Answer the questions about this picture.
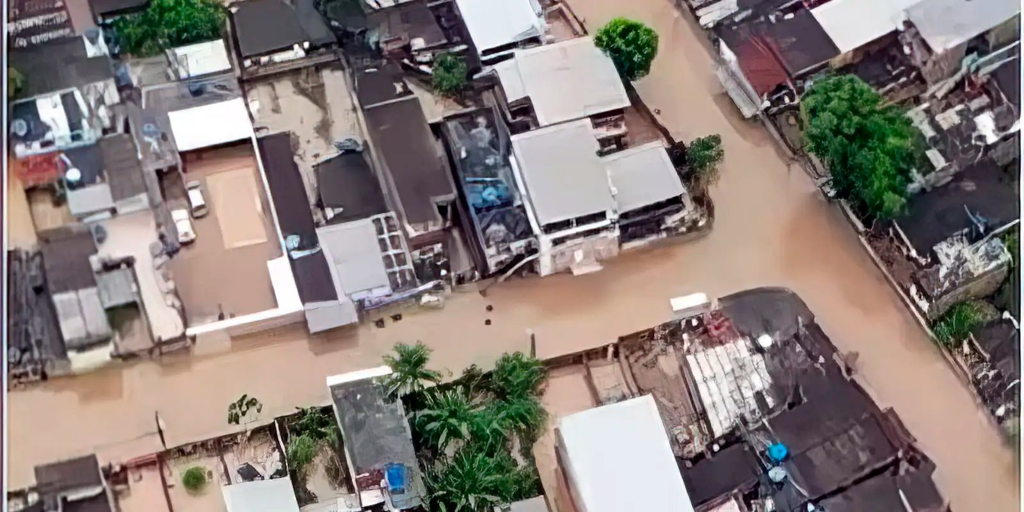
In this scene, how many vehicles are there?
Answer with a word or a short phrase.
3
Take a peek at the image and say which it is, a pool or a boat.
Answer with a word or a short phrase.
pool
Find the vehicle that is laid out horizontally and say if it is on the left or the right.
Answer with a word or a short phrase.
right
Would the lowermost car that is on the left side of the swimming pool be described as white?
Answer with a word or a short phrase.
Yes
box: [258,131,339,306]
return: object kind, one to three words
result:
house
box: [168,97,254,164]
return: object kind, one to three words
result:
house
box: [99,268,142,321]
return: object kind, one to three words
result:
shed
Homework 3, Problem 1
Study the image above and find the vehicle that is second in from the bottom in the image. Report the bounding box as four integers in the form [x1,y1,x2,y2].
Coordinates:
[170,211,198,250]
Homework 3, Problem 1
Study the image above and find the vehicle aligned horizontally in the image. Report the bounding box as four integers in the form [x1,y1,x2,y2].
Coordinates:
[670,293,710,314]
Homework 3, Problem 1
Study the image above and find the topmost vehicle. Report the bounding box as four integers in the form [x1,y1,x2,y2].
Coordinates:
[186,183,211,220]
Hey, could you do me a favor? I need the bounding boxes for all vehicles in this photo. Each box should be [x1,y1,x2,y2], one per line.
[170,211,198,250]
[670,293,710,314]
[186,183,211,220]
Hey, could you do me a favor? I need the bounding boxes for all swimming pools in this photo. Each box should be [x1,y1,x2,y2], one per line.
[205,165,268,250]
